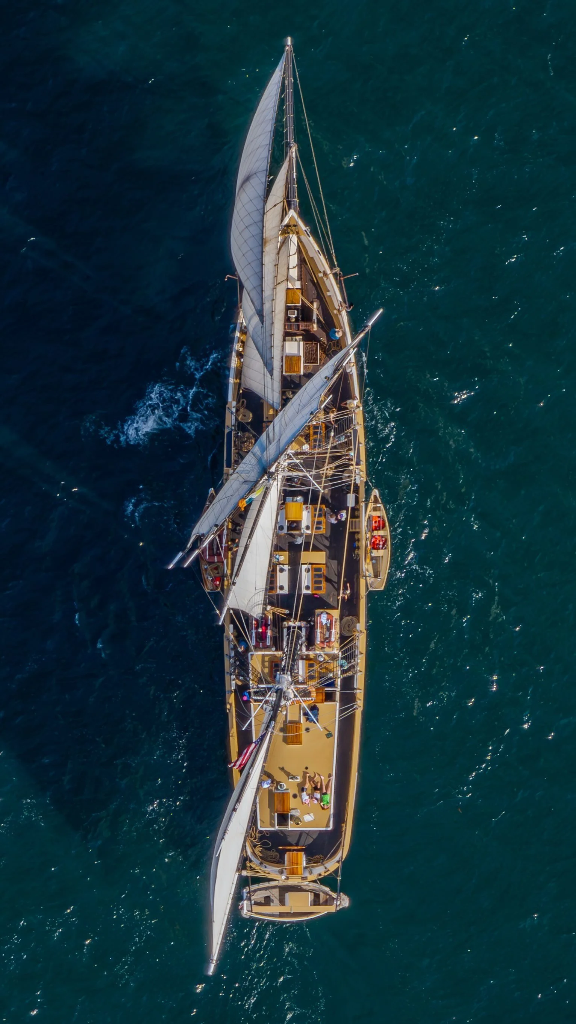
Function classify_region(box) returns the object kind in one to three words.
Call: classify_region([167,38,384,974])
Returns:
ship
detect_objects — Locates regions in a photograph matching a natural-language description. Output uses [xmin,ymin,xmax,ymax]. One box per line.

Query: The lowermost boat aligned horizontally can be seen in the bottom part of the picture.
[238,881,337,921]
